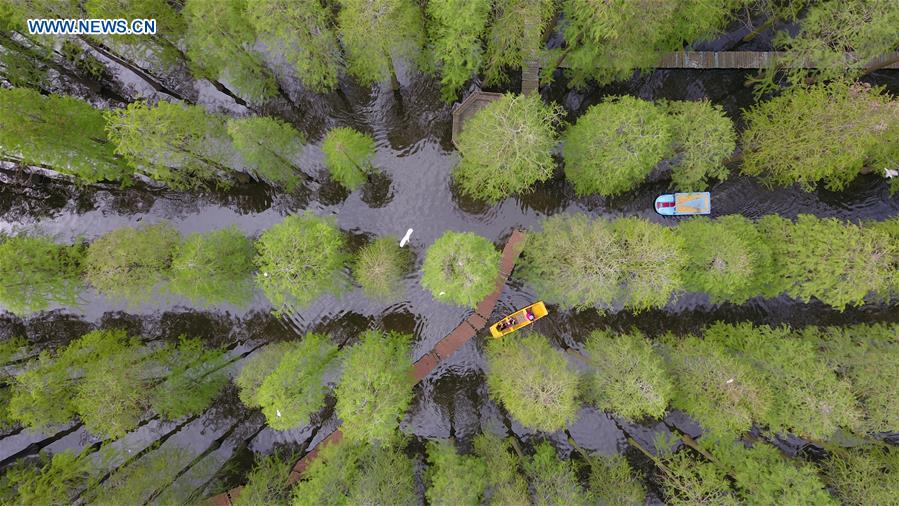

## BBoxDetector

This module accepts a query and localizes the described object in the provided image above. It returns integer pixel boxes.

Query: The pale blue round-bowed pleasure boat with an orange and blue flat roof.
[654,192,711,216]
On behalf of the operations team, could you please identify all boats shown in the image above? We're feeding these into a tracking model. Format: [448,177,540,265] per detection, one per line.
[654,192,711,216]
[490,301,549,338]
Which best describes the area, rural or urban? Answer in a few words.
rural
